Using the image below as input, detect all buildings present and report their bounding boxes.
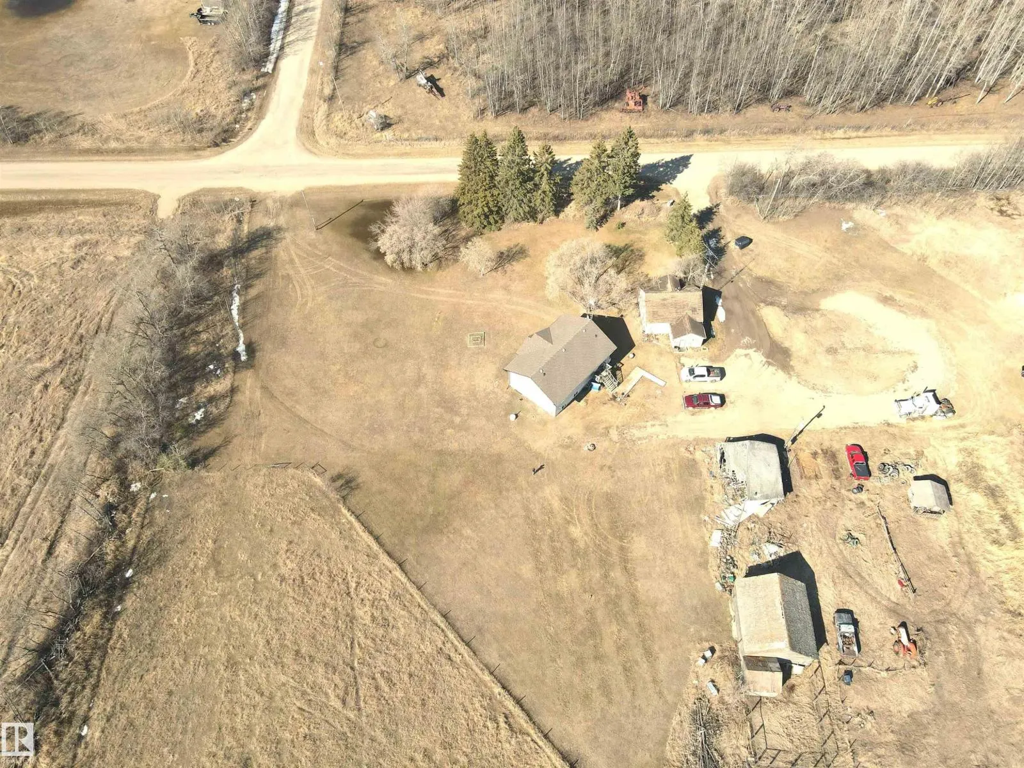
[502,316,617,415]
[711,440,784,540]
[730,570,819,702]
[640,270,706,356]
[904,478,951,527]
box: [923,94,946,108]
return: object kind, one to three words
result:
work vehicle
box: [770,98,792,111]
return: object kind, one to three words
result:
vehicle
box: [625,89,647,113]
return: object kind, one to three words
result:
work vehicle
